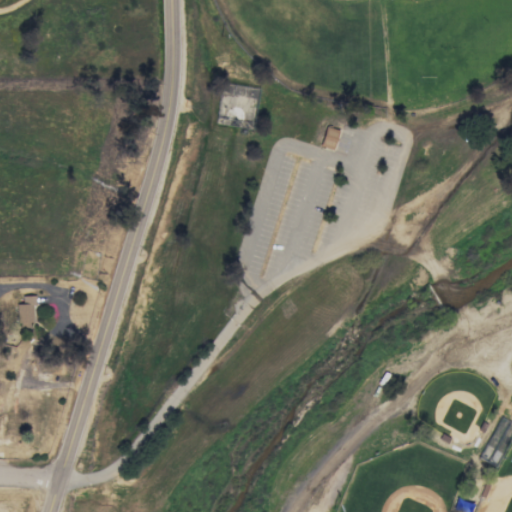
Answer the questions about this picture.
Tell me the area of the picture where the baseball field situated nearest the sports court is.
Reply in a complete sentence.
You can find the baseball field situated nearest the sports court in the top area of the picture.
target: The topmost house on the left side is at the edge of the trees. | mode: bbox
[18,296,37,328]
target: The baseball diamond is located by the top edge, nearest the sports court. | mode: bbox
[224,0,386,101]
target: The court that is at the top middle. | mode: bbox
[218,84,260,128]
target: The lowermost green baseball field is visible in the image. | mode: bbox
[341,444,465,512]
